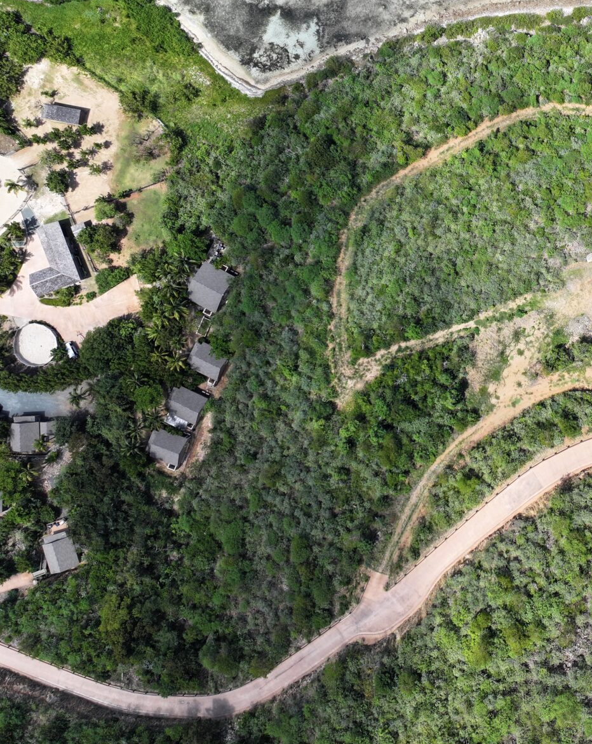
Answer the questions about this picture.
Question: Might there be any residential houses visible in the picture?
Yes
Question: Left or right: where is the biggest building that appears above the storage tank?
left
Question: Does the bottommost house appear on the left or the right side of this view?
left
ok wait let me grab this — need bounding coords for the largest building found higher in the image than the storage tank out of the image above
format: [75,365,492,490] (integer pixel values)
[29,222,86,297]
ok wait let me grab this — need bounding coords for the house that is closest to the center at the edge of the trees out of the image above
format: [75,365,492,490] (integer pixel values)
[187,342,229,382]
